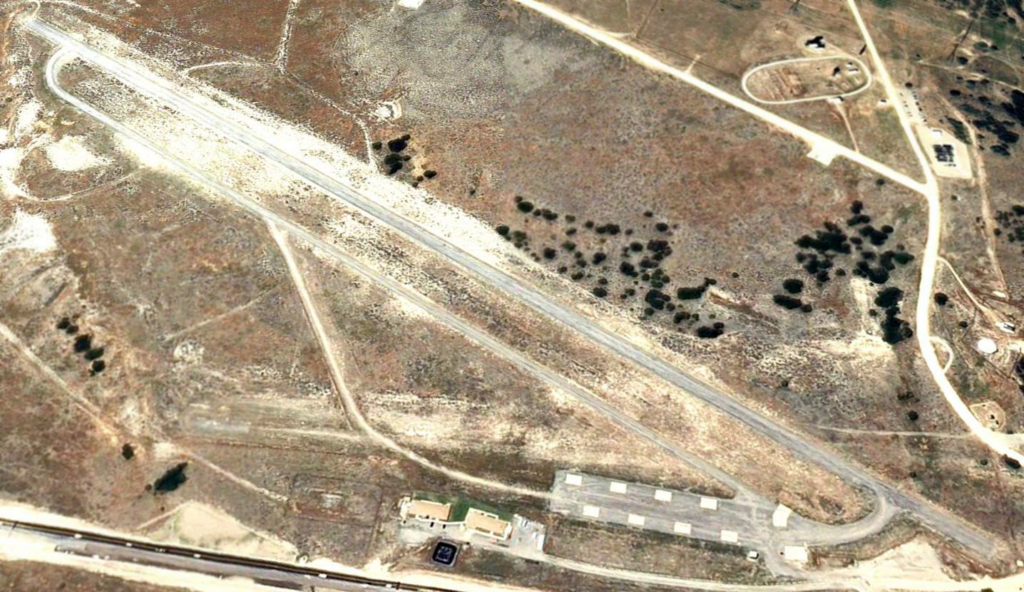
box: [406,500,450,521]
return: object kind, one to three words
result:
house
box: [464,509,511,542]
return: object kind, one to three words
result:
house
